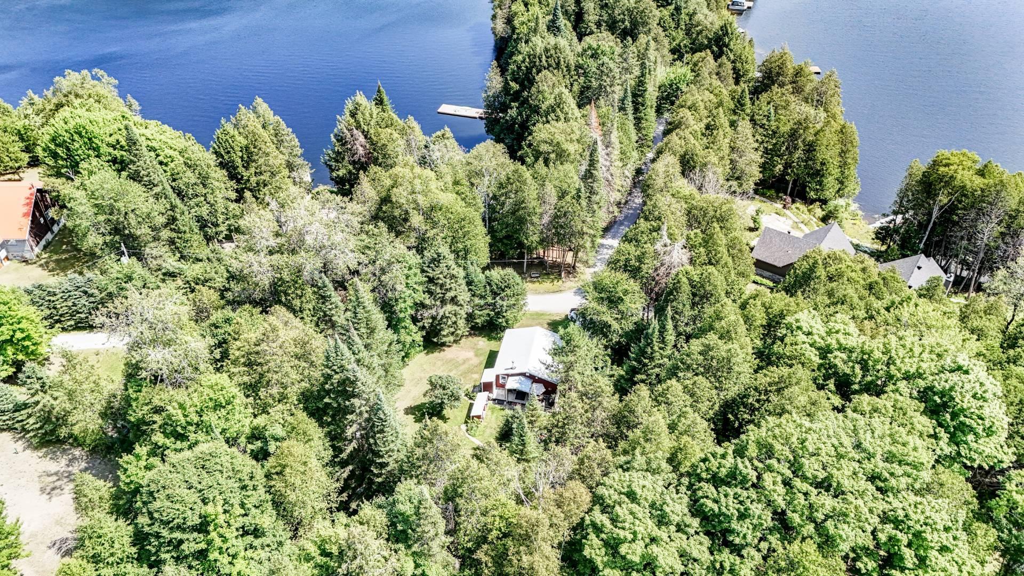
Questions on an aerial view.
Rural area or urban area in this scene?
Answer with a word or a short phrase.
rural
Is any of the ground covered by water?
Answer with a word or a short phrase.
Yes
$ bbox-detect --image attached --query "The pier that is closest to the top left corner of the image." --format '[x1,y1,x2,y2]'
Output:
[438,104,483,120]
